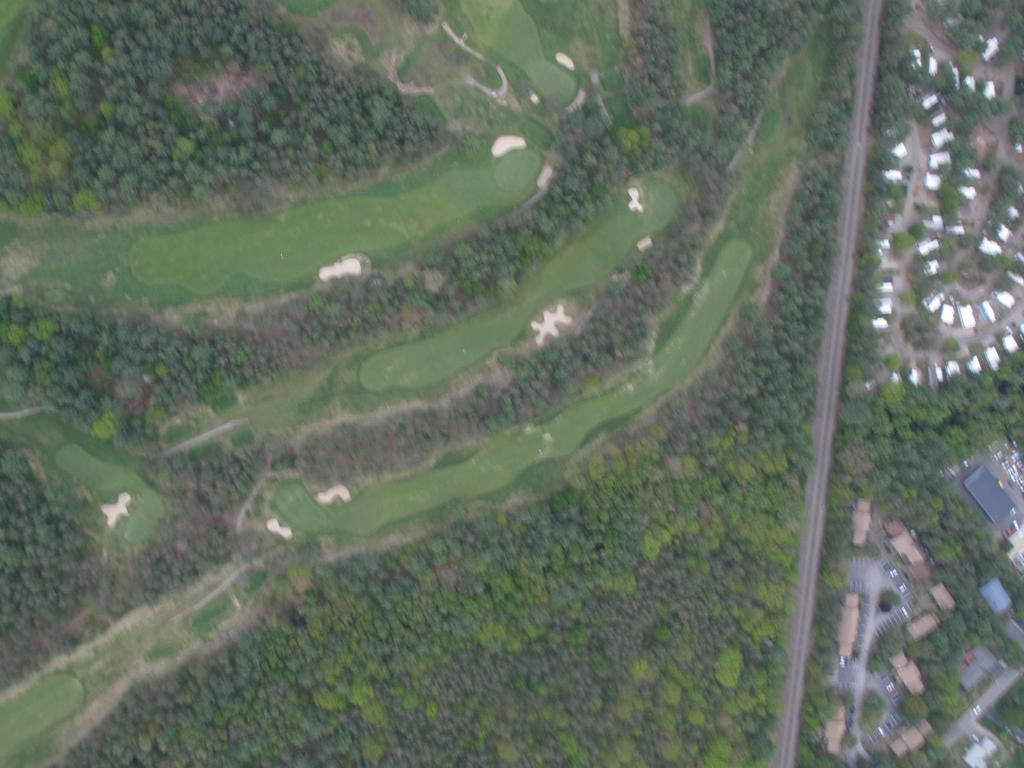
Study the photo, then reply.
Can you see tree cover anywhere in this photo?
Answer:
Yes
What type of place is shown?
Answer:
golf course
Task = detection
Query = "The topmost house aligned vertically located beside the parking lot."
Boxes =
[849,500,870,544]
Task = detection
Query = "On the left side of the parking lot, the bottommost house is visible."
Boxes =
[825,706,845,756]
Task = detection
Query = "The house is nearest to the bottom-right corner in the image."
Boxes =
[958,735,998,768]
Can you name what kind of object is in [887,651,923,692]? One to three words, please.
house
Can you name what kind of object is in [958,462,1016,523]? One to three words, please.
building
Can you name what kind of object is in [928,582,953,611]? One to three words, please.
house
